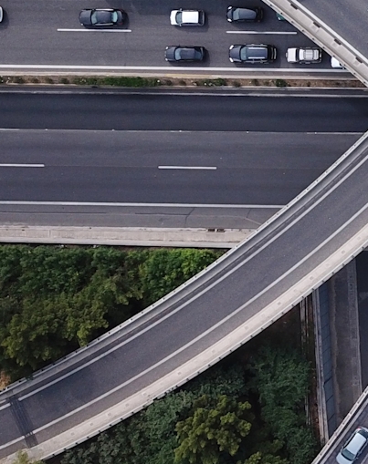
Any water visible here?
No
